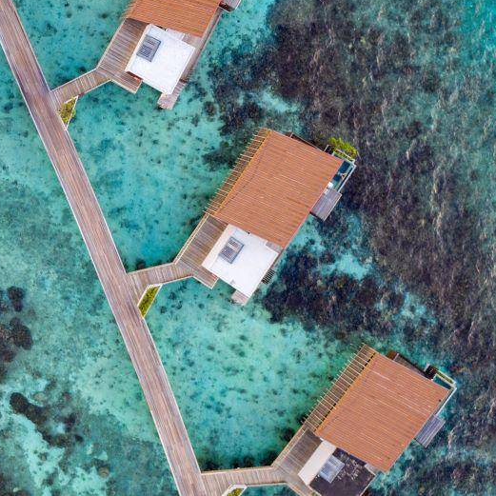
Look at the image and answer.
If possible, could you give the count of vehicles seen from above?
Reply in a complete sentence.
Not a single vehicle can be seen.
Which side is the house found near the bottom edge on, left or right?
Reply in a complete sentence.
The house found near the bottom edge is on the right side of the image.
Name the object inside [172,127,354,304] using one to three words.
house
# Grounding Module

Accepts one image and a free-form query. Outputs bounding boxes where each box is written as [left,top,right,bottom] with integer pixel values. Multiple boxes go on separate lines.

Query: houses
[265,342,457,496]
[96,0,241,112]
[172,127,354,304]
